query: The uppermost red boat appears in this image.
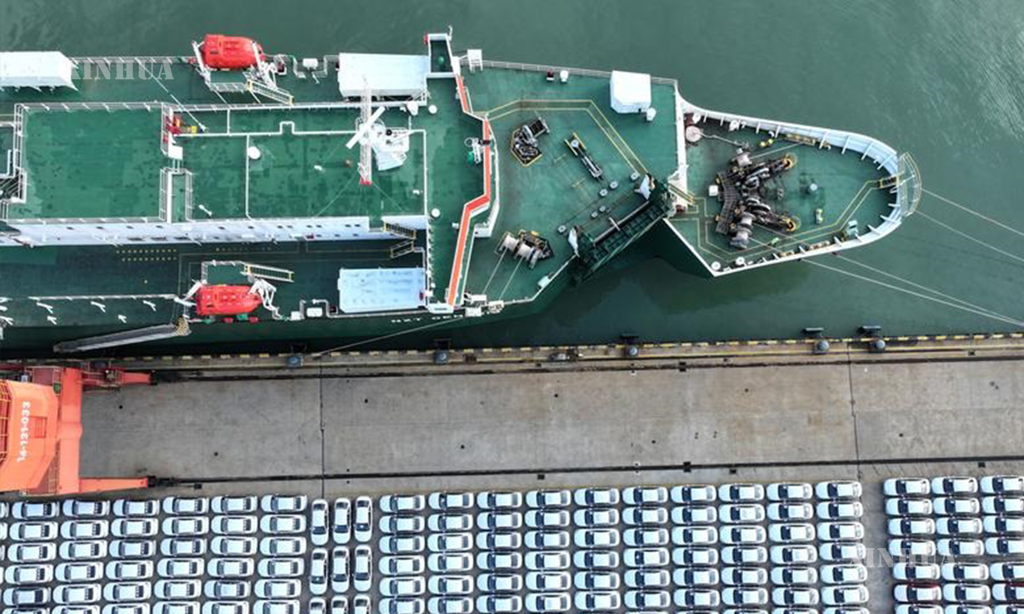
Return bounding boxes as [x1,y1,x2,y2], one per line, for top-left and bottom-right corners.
[203,37,267,70]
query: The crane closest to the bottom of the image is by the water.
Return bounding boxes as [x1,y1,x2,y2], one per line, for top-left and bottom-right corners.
[0,365,162,496]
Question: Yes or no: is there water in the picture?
Yes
